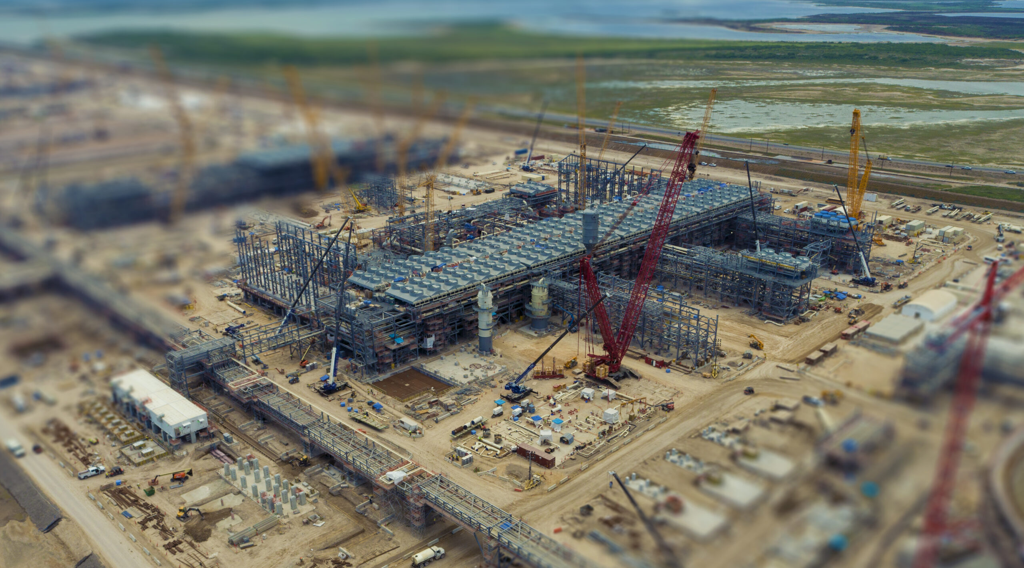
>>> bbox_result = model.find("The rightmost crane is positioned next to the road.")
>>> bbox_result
[925,269,1024,568]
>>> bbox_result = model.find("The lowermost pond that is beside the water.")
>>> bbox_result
[660,100,1024,132]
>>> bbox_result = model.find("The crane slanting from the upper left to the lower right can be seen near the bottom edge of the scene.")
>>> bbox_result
[607,470,706,568]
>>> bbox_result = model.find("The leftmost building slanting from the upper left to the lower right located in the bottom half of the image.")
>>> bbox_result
[112,370,213,453]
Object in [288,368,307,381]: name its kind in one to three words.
vehicle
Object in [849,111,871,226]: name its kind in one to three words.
crane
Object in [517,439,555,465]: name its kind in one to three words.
shipping container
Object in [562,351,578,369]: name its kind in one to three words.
work vehicle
